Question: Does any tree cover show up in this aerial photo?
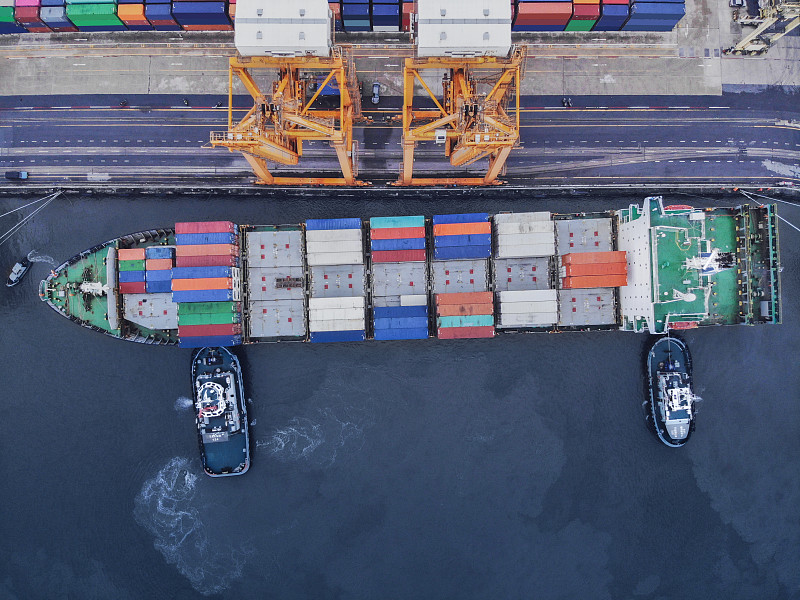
No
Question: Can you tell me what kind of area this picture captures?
port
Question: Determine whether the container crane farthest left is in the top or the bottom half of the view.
top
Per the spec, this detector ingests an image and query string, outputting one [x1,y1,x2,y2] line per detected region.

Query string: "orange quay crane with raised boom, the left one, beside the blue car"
[208,0,370,184]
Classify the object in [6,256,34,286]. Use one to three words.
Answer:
boat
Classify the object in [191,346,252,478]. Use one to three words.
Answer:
boat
